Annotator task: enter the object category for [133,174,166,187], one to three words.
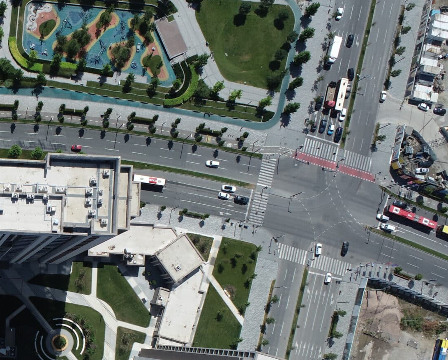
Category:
vehicle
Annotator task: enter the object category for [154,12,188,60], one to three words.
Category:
building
